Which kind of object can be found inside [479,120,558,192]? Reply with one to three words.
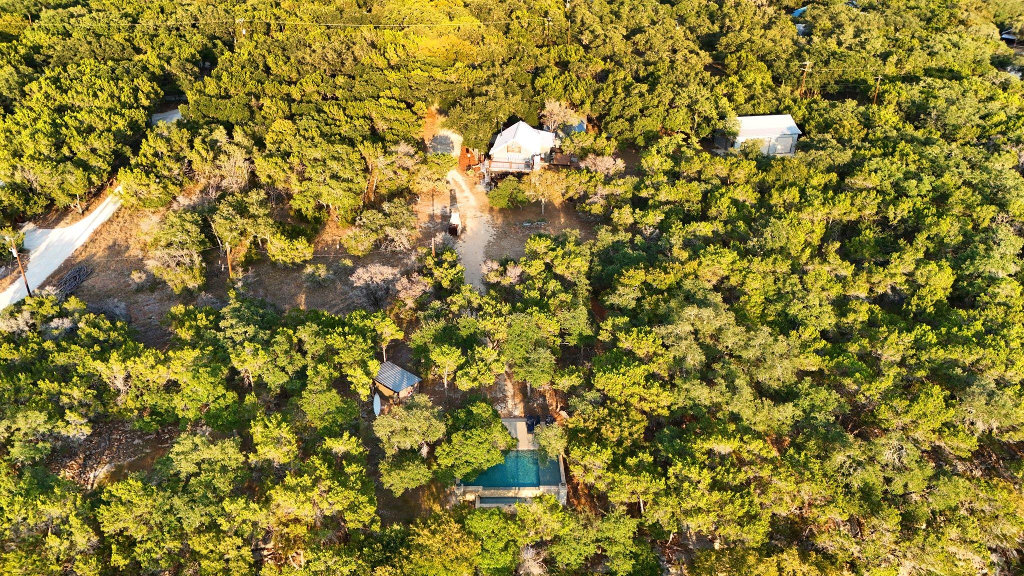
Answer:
house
